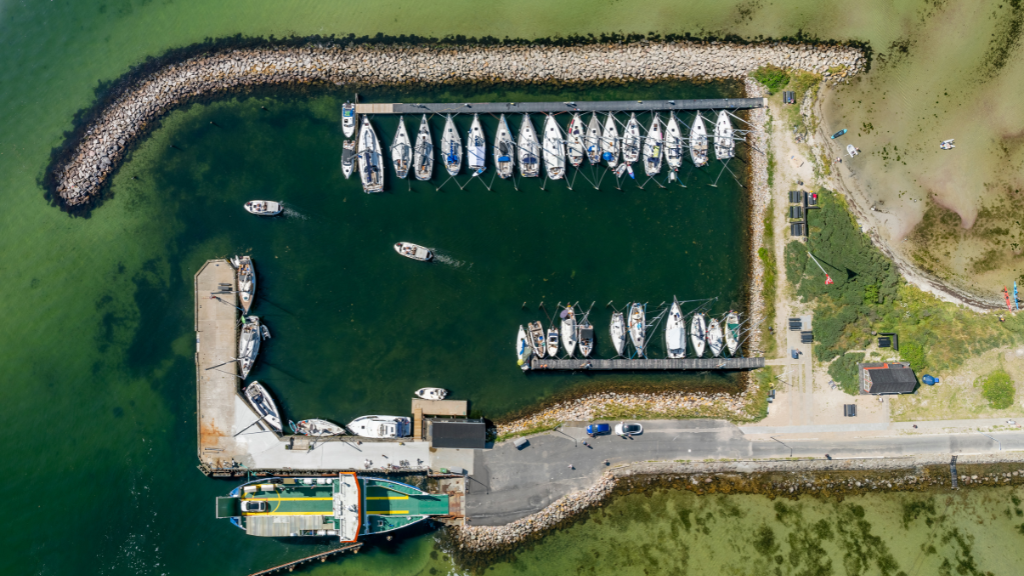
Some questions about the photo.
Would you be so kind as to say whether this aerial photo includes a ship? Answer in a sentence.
Yes, the photo shows a ship.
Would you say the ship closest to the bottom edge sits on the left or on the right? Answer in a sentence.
The ship closest to the bottom edge sits on the left side.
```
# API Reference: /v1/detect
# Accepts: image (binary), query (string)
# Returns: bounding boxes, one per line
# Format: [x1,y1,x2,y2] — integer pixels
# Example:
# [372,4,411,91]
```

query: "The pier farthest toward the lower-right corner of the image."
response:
[530,356,763,370]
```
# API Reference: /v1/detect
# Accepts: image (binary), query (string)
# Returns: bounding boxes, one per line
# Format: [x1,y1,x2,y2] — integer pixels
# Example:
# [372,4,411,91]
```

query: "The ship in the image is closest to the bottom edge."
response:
[215,467,450,544]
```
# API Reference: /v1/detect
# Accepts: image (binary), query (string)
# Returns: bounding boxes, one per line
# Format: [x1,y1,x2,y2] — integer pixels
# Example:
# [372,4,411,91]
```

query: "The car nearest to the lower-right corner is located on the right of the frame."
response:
[615,423,643,435]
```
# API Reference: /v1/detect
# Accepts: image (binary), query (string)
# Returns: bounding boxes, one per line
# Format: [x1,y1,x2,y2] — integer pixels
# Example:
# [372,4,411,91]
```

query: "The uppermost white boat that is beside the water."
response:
[341,100,355,137]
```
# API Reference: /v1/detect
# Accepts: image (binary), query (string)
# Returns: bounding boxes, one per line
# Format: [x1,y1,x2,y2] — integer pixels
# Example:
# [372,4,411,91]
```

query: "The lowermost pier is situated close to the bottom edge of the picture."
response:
[249,543,362,576]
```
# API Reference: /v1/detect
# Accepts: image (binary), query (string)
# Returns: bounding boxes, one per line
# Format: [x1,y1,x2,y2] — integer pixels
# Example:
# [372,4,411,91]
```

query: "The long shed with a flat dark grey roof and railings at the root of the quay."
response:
[424,417,487,448]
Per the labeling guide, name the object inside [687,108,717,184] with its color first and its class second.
white boat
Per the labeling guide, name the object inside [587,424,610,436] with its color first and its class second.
blue vehicle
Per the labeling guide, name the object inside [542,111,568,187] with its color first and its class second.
white boat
